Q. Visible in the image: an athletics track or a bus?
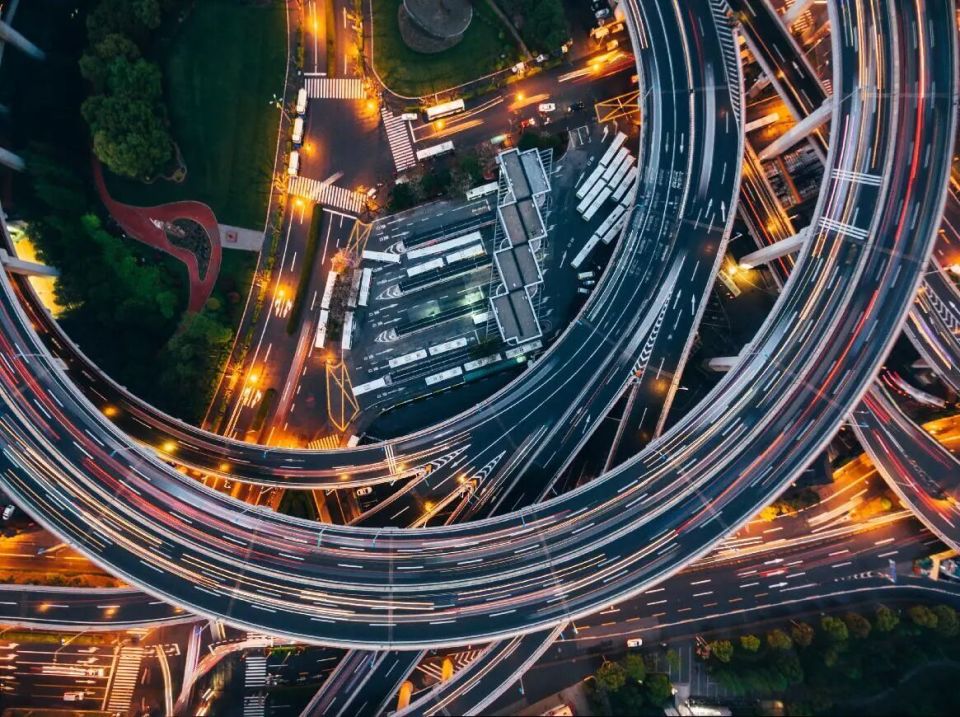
bus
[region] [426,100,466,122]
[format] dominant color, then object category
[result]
white bus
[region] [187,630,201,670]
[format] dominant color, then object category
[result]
white vehicle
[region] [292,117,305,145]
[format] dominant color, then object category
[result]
white vehicle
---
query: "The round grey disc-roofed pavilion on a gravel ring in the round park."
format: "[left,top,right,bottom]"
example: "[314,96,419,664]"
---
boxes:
[397,0,472,55]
